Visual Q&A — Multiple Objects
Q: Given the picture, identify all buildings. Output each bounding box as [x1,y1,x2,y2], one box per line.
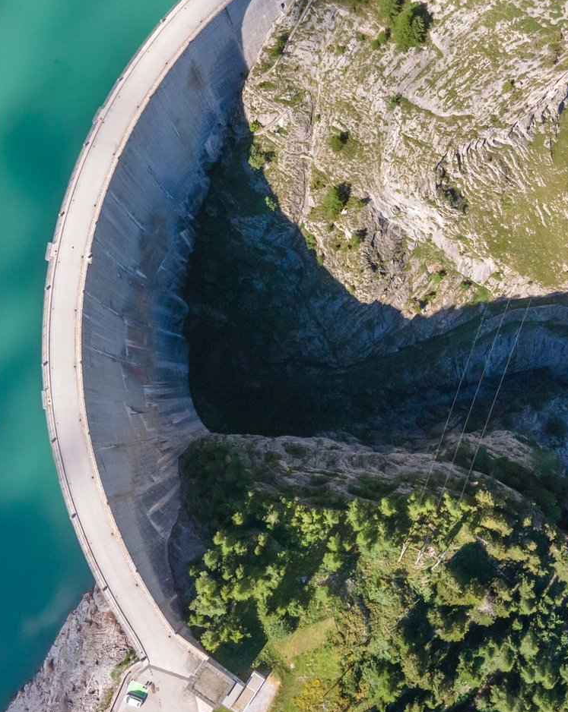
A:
[229,663,266,712]
[187,654,236,708]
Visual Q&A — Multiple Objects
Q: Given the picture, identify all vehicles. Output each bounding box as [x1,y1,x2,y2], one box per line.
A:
[122,695,143,712]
